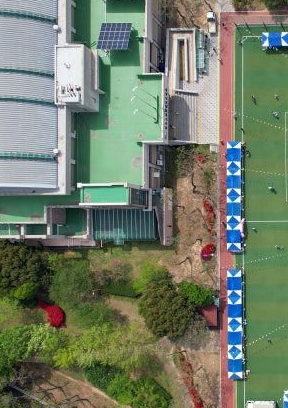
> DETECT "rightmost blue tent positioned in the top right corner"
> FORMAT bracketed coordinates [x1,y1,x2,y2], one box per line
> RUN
[261,31,288,49]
